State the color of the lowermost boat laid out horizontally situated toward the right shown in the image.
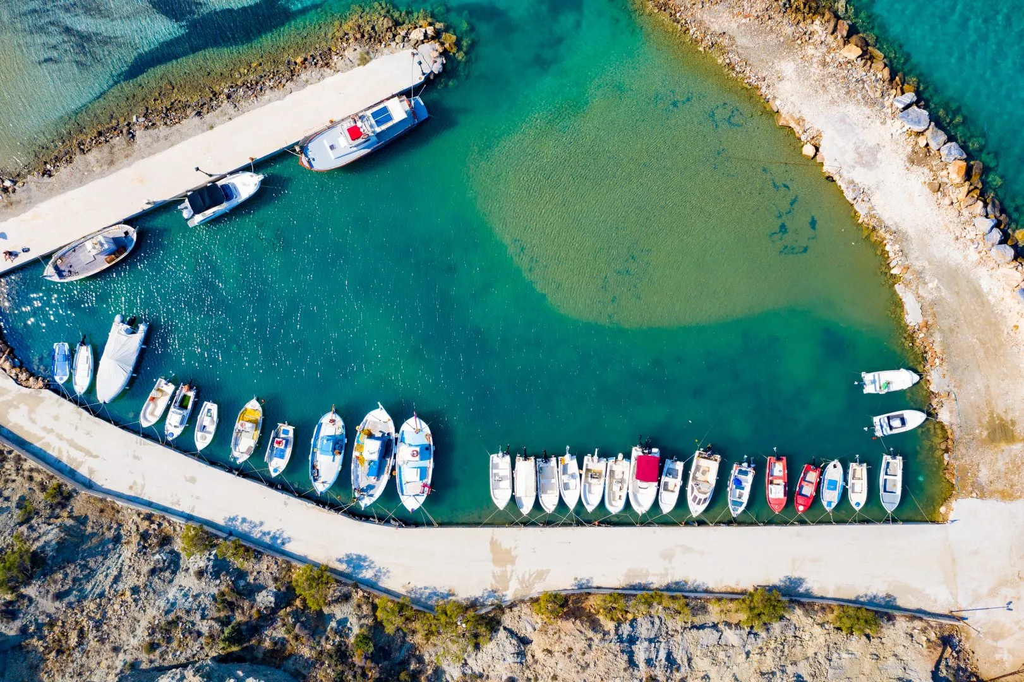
white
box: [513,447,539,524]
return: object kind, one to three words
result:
boat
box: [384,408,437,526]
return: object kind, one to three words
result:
boat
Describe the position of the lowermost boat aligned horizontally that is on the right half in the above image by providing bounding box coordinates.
[865,404,938,445]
